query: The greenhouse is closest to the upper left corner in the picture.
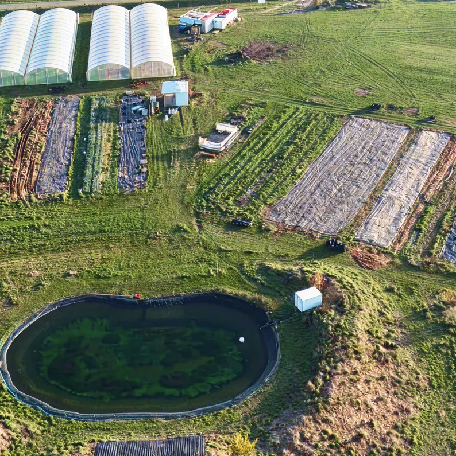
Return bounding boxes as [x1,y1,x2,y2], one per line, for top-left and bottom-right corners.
[0,11,85,86]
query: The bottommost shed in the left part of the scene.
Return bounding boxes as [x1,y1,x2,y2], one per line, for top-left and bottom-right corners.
[163,79,189,105]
